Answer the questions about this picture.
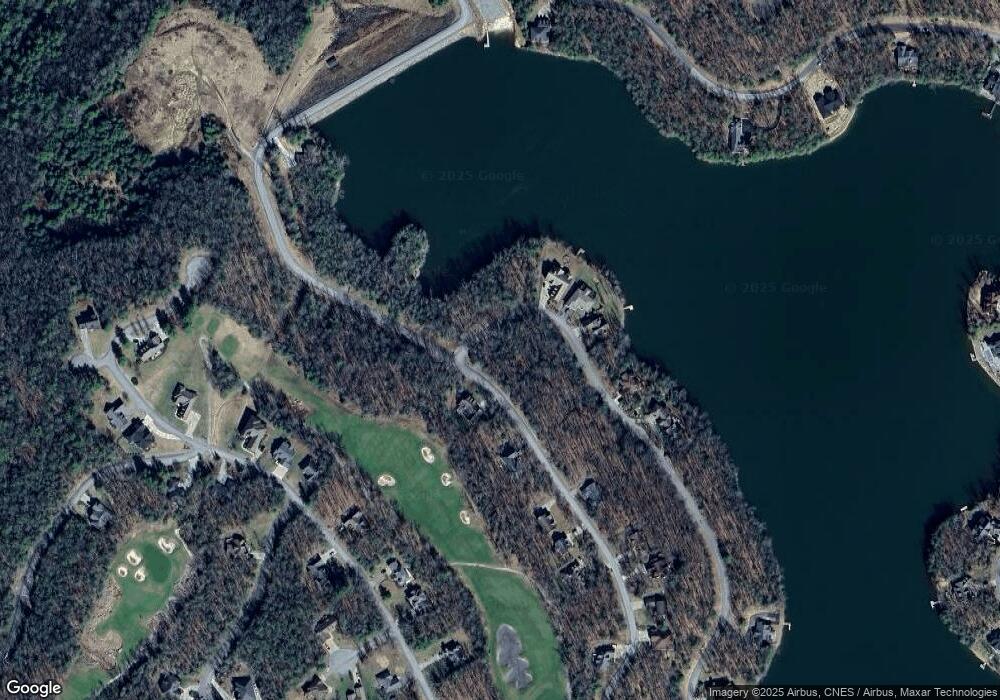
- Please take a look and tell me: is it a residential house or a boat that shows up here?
residential house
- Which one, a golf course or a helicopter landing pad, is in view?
golf course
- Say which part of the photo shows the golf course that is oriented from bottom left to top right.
bottom left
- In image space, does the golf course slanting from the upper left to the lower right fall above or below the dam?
below it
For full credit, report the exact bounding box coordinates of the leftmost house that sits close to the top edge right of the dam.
[531,26,551,47]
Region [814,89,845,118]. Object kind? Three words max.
house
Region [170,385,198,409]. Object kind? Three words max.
house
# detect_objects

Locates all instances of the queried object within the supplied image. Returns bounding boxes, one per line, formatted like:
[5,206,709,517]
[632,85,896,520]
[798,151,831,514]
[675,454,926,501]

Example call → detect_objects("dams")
[262,0,481,144]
